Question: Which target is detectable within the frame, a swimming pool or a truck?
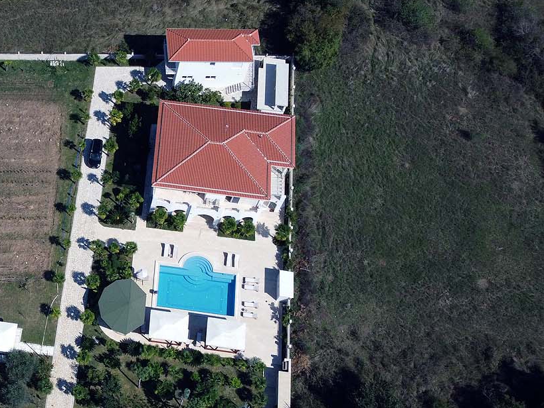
swimming pool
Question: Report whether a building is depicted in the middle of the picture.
Yes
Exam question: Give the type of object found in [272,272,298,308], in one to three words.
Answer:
building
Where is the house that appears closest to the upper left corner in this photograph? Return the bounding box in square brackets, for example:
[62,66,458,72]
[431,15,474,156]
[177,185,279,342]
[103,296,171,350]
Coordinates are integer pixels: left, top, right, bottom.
[163,27,261,92]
